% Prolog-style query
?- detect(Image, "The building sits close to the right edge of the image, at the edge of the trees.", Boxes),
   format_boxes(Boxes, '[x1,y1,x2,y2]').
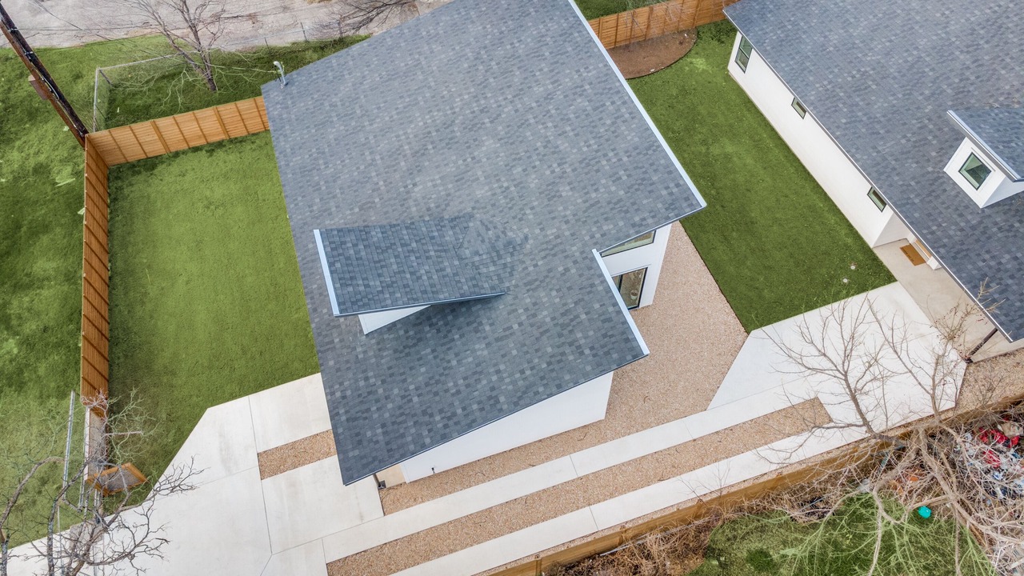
[723,0,1024,363]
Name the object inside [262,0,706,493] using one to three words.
house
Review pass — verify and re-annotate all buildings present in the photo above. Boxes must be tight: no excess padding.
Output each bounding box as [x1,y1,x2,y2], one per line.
[262,0,706,493]
[723,0,1024,363]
